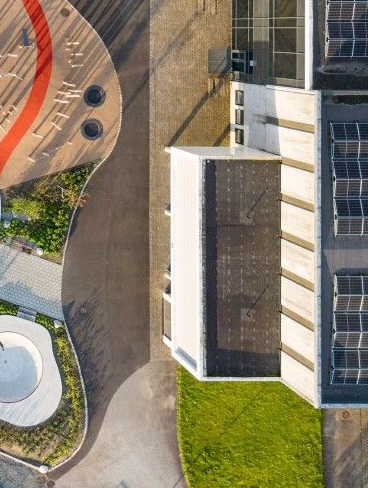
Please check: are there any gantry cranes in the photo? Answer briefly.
No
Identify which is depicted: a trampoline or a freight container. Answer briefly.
trampoline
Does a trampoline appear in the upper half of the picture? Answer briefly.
Yes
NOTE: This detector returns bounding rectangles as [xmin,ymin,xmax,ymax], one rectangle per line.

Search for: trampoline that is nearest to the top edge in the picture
[84,85,106,107]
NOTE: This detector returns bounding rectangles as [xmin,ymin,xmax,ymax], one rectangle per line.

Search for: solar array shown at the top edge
[326,0,368,58]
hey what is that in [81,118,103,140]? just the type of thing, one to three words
trampoline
